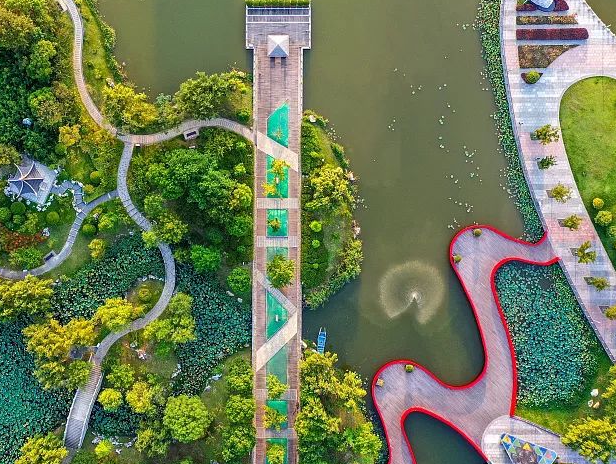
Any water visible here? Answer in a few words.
Yes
